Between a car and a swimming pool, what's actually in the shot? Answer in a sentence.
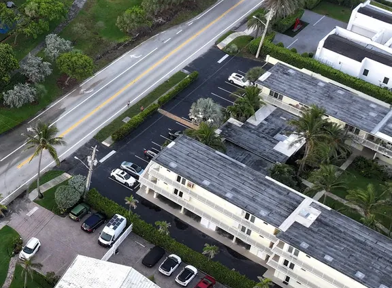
There is a car in the scene.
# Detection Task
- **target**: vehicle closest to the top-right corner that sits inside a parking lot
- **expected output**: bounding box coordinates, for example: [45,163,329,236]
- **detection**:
[225,71,252,88]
